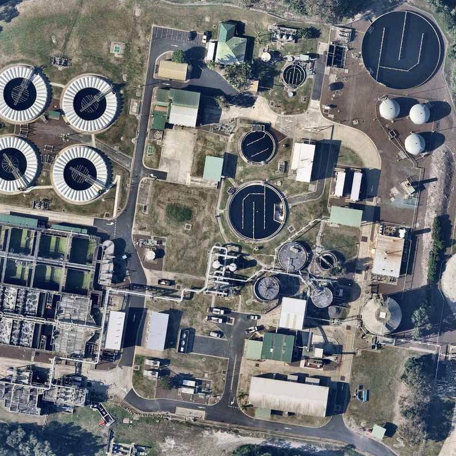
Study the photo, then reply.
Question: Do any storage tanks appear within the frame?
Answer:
Yes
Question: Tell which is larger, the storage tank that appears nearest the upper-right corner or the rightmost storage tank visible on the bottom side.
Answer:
the storage tank that appears nearest the upper-right corner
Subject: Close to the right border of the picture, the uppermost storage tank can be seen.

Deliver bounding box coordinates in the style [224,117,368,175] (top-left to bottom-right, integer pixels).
[360,8,445,92]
